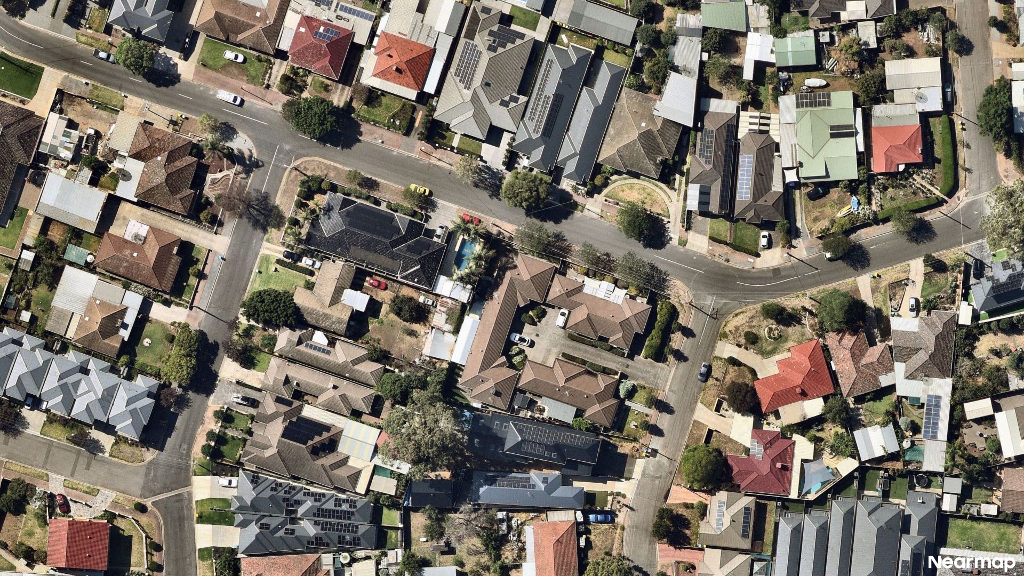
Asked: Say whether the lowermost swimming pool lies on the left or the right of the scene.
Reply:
right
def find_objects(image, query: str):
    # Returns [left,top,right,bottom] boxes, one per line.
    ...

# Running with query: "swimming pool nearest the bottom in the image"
[799,466,836,497]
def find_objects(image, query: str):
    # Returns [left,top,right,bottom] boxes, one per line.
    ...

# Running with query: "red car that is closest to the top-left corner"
[366,277,388,290]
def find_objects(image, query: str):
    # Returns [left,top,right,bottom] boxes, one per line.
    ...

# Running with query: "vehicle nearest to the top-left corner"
[92,49,115,63]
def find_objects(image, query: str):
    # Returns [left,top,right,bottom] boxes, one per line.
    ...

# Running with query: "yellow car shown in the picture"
[408,183,430,197]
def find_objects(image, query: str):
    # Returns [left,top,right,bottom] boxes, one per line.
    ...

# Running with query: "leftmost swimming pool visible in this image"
[454,237,477,271]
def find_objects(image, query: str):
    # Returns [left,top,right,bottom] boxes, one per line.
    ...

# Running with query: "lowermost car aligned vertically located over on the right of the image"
[698,361,710,384]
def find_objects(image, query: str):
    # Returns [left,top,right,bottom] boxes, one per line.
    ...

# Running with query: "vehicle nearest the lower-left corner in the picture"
[56,491,70,515]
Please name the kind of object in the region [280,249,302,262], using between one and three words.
vehicle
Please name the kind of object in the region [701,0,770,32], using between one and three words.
shed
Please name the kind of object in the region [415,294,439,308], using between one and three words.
vehicle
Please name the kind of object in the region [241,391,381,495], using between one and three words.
house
